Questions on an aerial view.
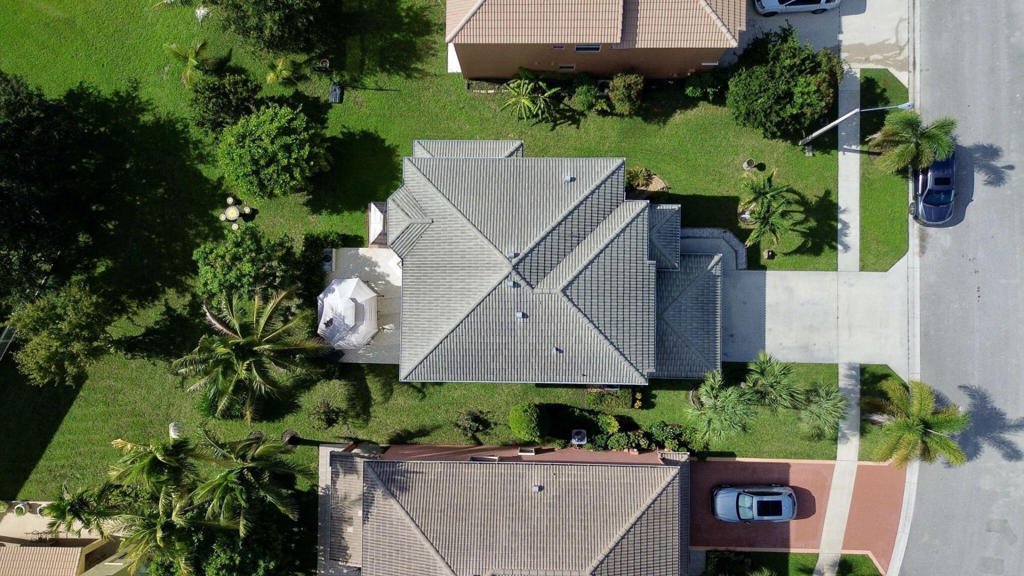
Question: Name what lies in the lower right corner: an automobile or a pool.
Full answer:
Looking in the lower right corner, you will find an automobile.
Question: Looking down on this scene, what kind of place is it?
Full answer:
The area seen from above is a residential area.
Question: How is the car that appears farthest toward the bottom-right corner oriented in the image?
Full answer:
The car that appears farthest toward the bottom-right corner is oriented from left to right.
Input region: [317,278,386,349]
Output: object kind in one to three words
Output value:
gazebo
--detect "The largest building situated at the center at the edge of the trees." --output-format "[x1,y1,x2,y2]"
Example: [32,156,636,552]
[385,138,724,384]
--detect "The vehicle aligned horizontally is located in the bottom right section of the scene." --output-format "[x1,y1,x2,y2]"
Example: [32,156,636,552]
[708,483,798,526]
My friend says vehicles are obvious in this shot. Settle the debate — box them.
[750,0,839,15]
[708,483,798,526]
[911,144,962,227]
